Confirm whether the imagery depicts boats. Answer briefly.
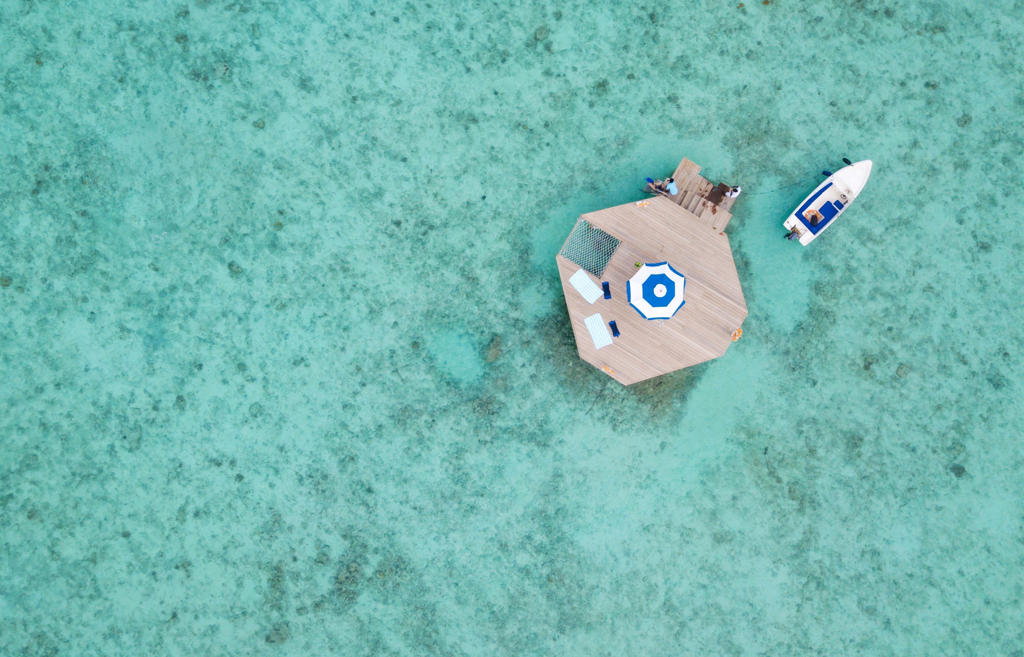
Yes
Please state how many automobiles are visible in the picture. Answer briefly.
0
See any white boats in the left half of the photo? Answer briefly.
No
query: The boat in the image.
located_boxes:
[783,159,873,246]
